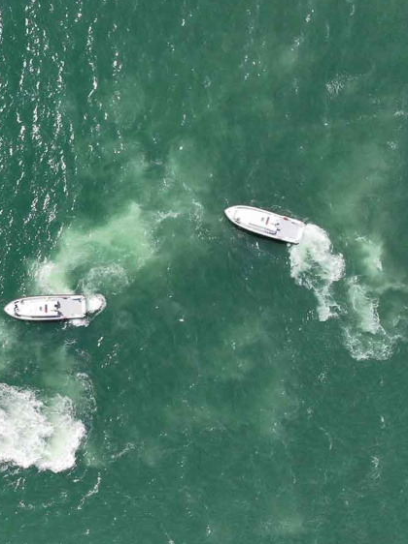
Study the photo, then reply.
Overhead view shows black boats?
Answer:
No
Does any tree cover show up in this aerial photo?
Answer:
No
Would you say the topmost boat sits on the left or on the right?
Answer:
right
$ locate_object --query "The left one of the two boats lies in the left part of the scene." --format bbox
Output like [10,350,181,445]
[6,294,89,321]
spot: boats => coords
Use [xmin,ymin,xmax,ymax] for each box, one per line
[6,294,89,321]
[227,203,309,244]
